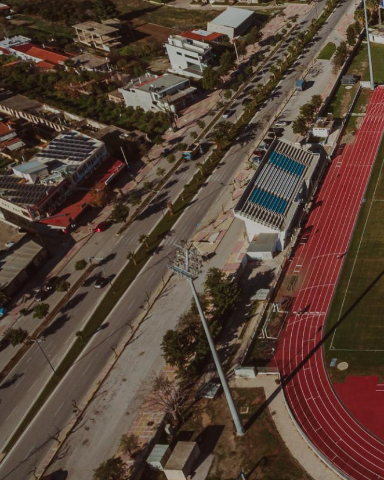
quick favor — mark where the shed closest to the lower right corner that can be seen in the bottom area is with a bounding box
[232,360,257,376]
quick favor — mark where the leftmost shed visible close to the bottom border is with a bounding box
[143,444,171,472]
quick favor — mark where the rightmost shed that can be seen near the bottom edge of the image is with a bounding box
[162,441,200,480]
